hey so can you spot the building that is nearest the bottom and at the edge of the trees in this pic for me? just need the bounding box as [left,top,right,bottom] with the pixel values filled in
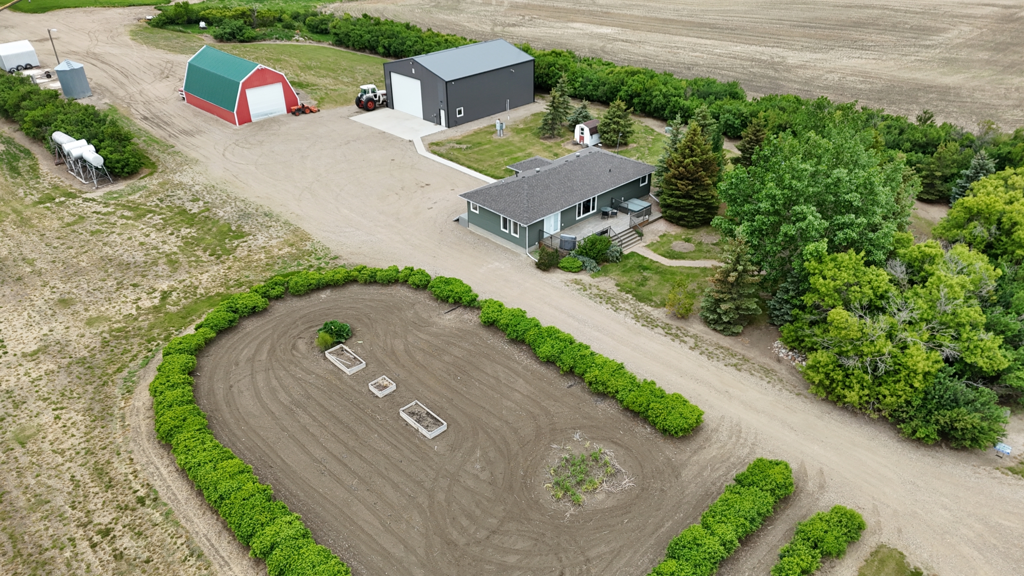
[457,141,657,259]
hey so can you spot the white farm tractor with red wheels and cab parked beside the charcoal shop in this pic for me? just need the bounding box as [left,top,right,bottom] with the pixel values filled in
[355,82,387,111]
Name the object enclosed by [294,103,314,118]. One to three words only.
work vehicle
